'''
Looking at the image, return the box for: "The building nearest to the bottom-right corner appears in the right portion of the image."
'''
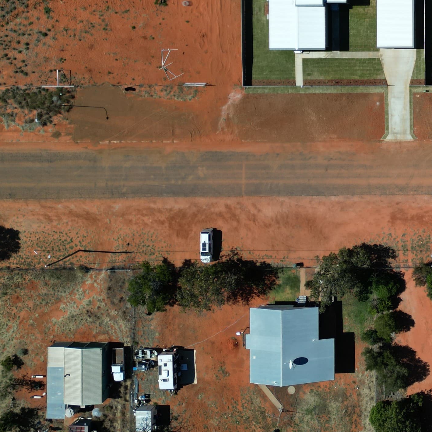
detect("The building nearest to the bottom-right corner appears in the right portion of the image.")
[246,296,336,387]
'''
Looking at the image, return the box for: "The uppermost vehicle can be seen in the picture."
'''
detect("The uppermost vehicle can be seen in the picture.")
[198,229,214,263]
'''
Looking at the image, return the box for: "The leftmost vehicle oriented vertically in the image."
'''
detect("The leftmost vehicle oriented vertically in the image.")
[108,349,125,384]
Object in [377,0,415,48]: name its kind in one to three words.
building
